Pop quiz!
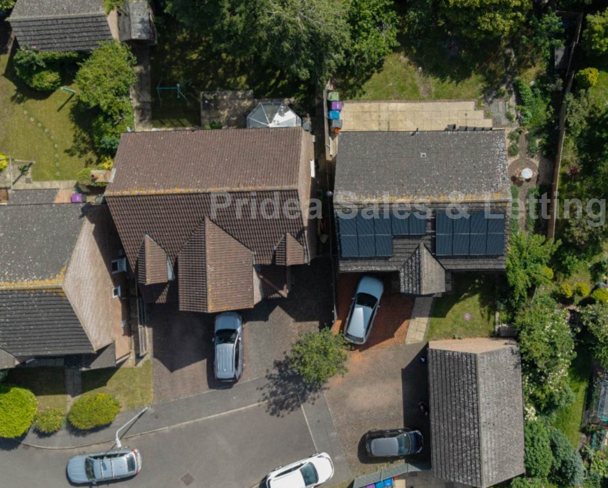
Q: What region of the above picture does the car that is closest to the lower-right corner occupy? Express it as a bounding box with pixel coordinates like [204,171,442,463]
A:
[365,426,424,460]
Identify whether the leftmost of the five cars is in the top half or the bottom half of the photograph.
bottom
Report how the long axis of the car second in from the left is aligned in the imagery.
from top to bottom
